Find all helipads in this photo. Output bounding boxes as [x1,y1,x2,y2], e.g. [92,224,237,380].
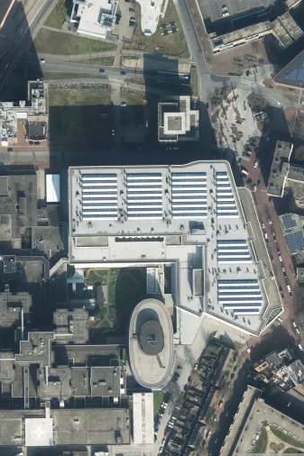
[25,403,52,451]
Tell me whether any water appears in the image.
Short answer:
No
